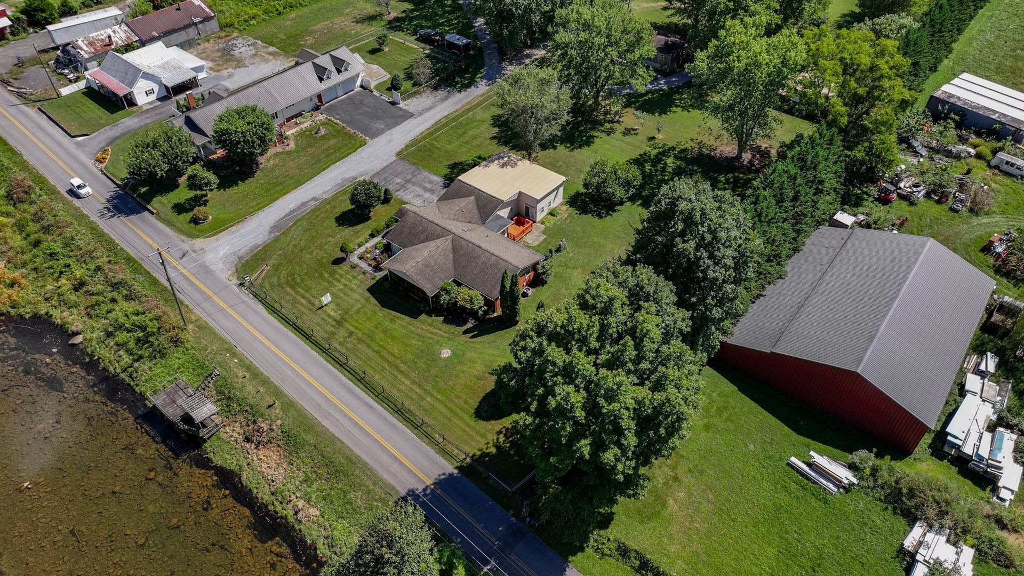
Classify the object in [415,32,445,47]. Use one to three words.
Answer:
vehicle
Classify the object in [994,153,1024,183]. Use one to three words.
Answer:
van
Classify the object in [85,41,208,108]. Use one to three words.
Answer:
house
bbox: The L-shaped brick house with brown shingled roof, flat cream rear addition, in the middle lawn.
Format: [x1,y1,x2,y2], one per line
[380,151,572,310]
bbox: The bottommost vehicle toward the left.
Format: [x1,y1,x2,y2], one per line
[69,177,95,199]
